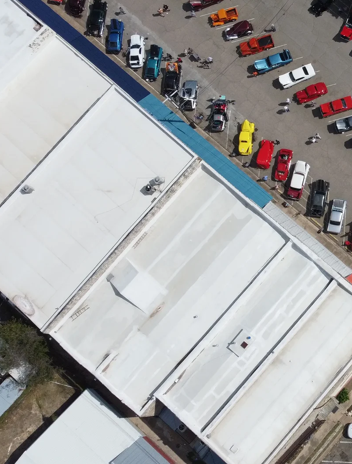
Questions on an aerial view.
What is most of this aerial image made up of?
buildings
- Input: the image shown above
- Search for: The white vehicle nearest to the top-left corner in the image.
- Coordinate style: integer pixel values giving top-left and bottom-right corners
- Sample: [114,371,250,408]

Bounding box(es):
[121,34,149,68]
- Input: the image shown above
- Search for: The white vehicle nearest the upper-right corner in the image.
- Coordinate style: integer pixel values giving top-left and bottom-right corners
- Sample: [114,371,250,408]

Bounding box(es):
[277,63,318,88]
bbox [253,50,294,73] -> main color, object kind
blue car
